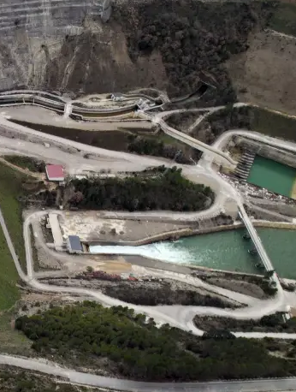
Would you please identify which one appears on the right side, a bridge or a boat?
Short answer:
bridge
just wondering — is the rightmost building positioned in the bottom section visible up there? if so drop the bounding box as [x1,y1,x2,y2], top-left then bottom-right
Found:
[64,232,91,258]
